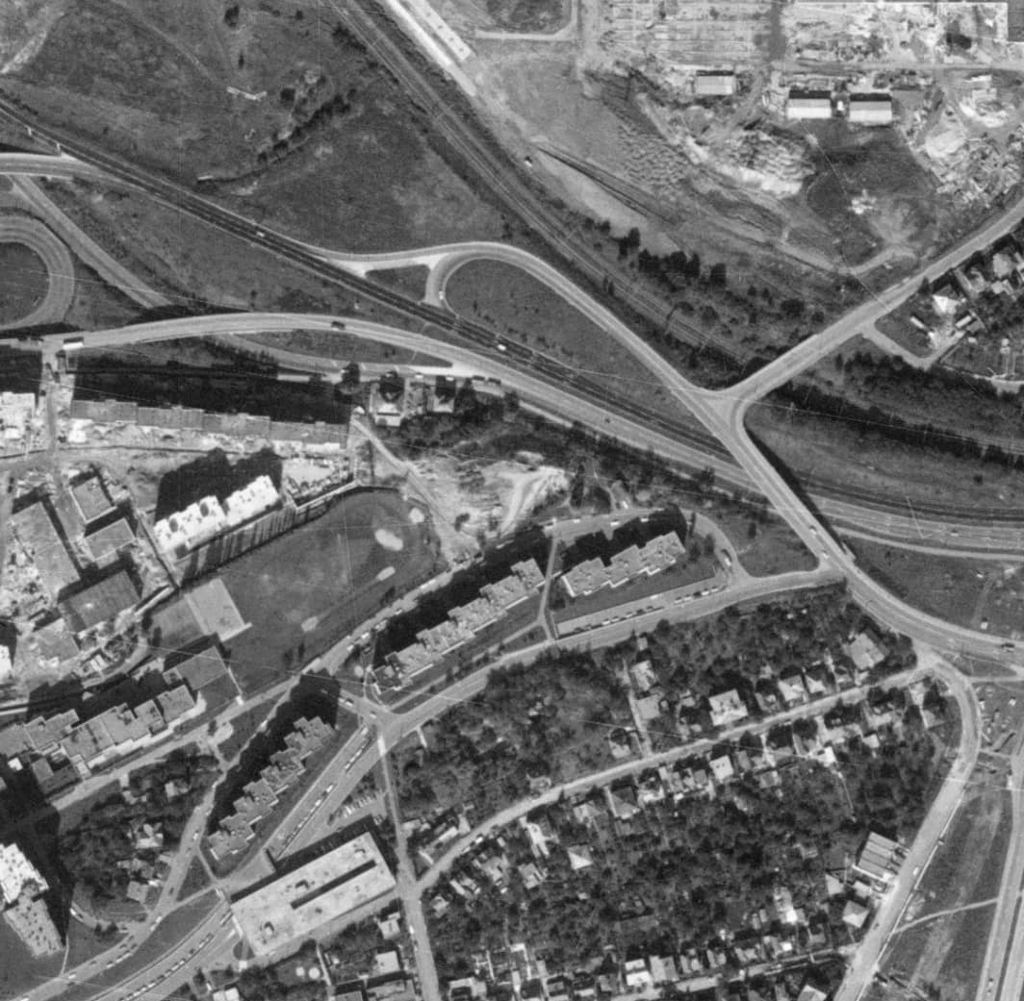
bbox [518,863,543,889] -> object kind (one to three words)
house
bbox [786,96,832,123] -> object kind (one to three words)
hangar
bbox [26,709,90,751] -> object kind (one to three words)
building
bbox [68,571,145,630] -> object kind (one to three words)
building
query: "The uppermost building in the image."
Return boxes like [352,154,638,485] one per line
[420,0,469,59]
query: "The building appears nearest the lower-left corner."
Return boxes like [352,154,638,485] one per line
[4,881,81,958]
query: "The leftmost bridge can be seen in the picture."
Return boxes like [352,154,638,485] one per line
[0,311,286,351]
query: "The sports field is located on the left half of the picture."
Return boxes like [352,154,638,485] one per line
[190,489,437,694]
